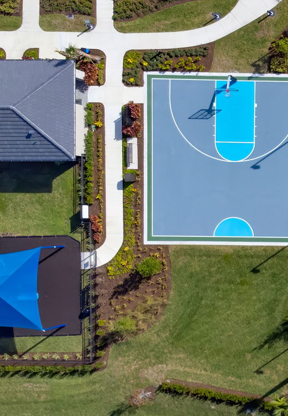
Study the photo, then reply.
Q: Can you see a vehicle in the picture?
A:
No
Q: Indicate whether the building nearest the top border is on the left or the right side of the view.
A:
left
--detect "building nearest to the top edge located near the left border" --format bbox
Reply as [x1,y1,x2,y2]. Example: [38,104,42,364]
[0,59,87,161]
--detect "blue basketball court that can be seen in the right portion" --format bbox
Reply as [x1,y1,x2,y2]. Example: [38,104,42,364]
[143,72,288,246]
